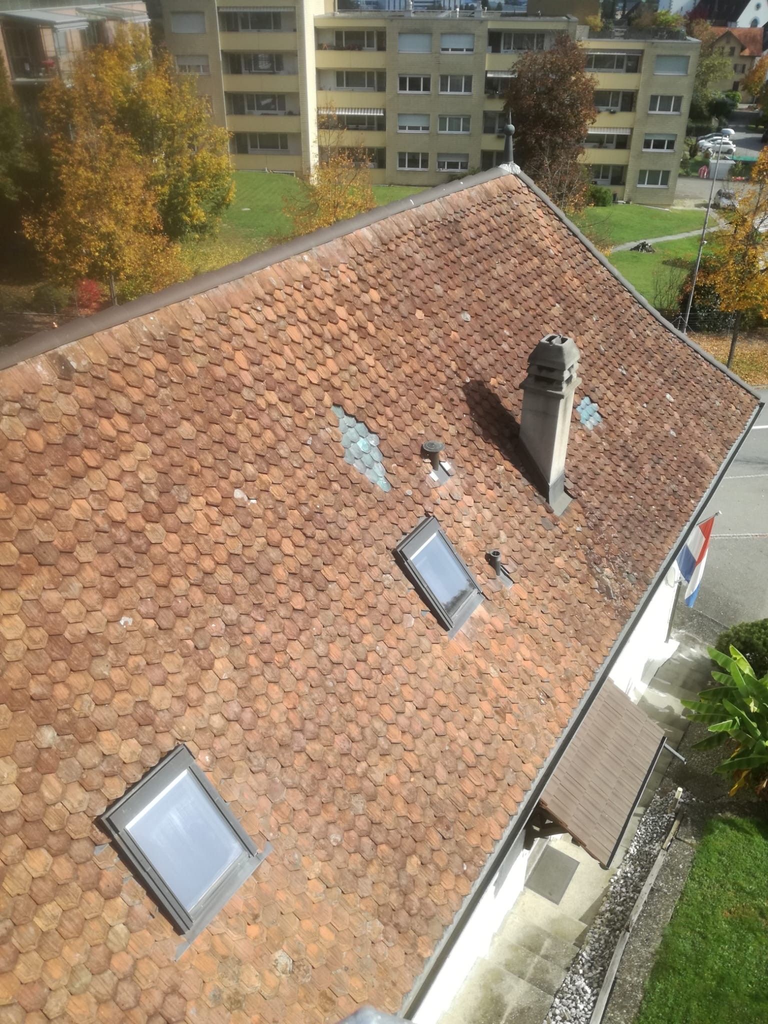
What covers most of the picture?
buildings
